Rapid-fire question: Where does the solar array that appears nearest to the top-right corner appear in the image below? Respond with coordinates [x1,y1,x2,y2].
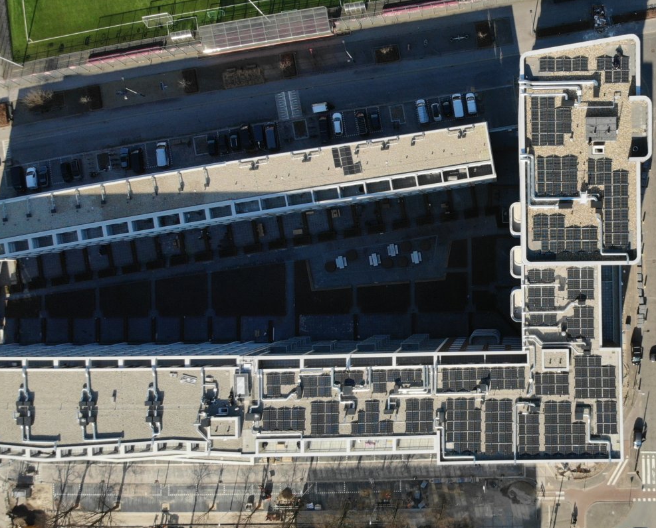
[596,59,628,84]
